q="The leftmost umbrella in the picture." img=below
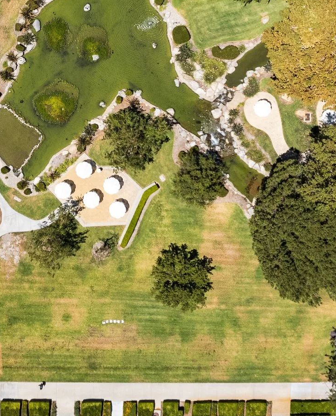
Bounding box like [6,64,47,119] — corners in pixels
[54,182,73,200]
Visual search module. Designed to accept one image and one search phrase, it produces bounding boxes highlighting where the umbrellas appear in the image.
[74,161,92,179]
[319,107,336,125]
[101,176,121,195]
[108,200,126,219]
[253,99,272,117]
[81,191,100,209]
[54,182,73,200]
